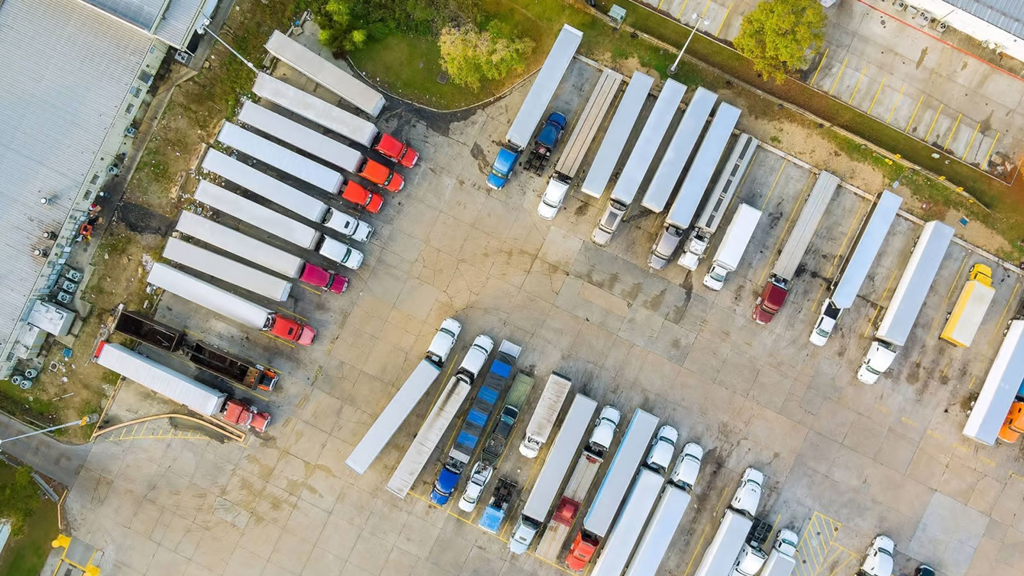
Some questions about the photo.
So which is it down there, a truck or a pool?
truck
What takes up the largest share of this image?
paved ground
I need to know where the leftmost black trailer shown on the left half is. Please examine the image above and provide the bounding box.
[114,311,195,351]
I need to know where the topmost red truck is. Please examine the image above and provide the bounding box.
[372,131,419,169]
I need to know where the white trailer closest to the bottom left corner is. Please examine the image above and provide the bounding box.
[97,340,228,415]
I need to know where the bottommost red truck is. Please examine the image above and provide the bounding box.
[566,523,599,570]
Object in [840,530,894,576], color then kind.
white truck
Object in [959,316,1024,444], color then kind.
white trailer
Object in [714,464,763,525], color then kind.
white truck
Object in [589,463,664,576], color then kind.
white trailer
